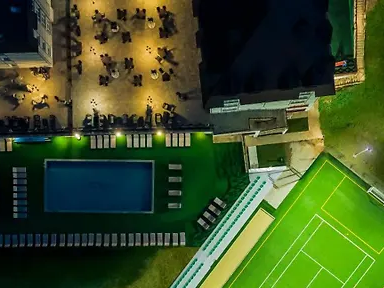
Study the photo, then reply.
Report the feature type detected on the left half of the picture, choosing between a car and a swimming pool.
swimming pool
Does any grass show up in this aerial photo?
Yes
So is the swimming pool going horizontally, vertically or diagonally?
horizontally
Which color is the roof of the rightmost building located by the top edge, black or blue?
black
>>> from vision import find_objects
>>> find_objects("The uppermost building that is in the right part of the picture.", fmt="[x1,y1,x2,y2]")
[188,0,336,114]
